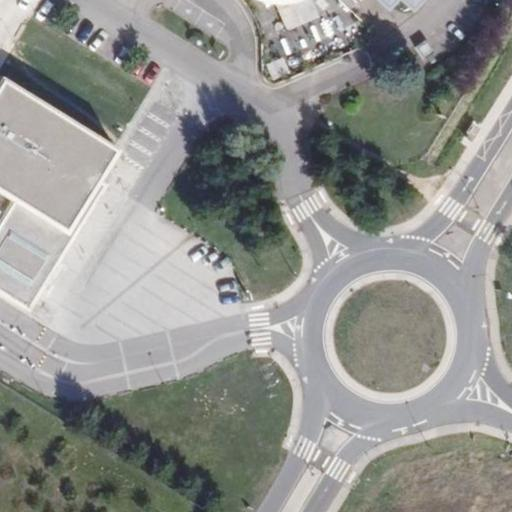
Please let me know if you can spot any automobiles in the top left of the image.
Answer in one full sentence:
Yes, an automobile can be seen in the top left of the image.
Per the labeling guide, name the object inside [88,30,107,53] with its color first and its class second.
white car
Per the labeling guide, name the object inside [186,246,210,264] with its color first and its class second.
white car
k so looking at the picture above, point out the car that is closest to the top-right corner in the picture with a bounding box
[448,21,468,42]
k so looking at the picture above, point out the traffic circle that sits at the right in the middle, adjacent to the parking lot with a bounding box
[240,96,512,512]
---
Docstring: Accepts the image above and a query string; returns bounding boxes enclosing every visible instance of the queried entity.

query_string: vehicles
[133,56,151,77]
[113,42,131,66]
[209,254,232,273]
[218,292,240,304]
[419,42,438,64]
[186,246,210,264]
[448,21,468,42]
[144,60,162,84]
[216,280,238,292]
[88,30,107,53]
[75,18,94,42]
[37,0,56,20]
[200,250,222,268]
